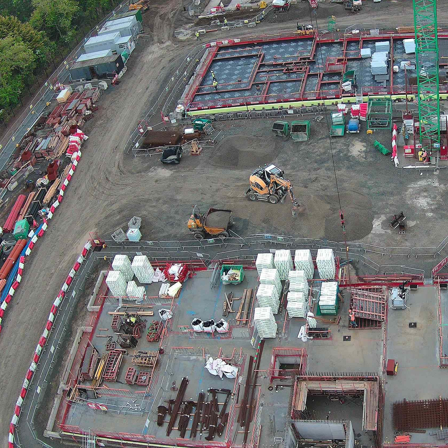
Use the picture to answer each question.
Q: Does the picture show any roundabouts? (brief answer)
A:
No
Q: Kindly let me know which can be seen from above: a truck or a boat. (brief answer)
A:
truck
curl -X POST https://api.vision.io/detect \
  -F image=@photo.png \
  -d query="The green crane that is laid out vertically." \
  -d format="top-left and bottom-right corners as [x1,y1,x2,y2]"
[412,0,440,152]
